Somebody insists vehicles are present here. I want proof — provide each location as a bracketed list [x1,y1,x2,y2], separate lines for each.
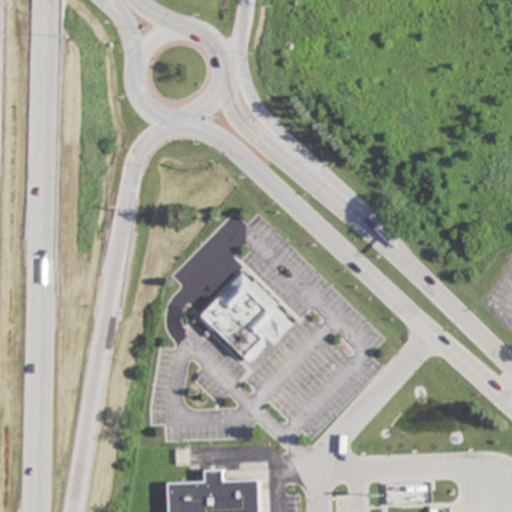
[28,362,34,374]
[26,466,32,476]
[347,262,360,274]
[190,34,202,43]
[34,186,40,198]
[211,56,218,69]
[424,274,436,286]
[338,433,346,460]
[438,334,450,346]
[488,378,502,390]
[278,264,292,278]
[40,250,48,286]
[370,226,392,250]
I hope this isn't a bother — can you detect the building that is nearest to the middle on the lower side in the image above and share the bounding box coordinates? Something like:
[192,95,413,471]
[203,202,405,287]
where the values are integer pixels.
[200,272,293,362]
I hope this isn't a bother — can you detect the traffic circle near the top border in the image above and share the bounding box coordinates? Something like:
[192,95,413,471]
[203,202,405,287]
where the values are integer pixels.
[124,20,236,128]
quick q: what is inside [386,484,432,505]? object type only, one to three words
building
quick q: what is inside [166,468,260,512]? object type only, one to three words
building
